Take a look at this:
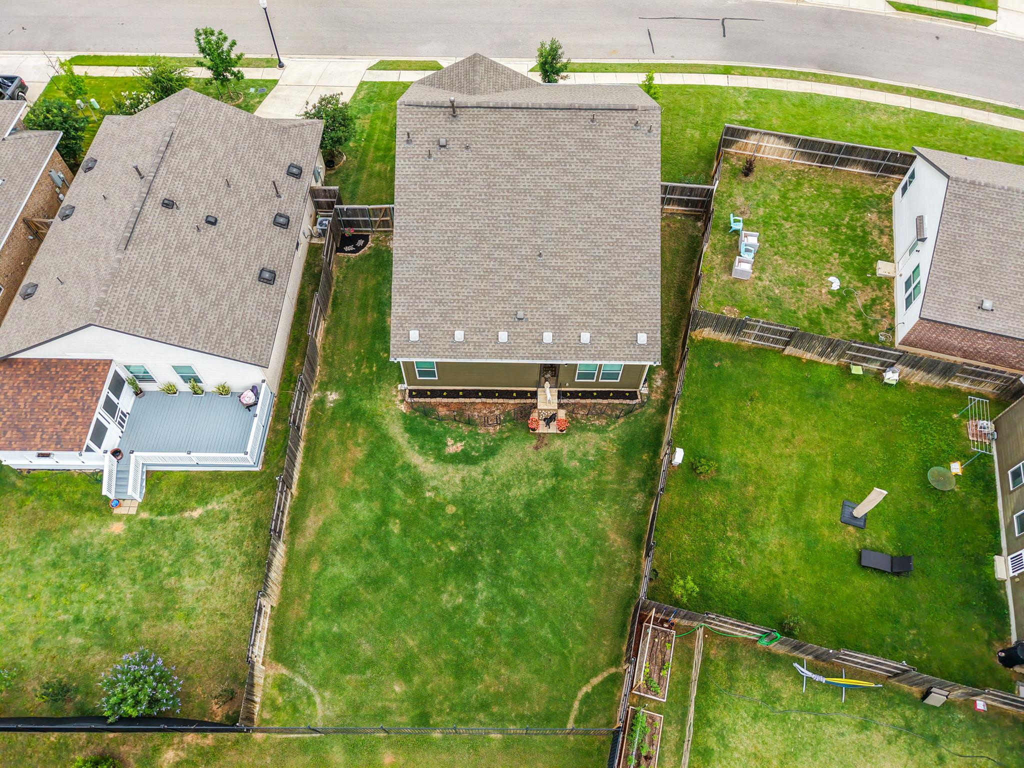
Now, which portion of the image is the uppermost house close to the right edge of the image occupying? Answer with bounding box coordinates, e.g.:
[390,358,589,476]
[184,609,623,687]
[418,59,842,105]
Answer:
[877,146,1024,377]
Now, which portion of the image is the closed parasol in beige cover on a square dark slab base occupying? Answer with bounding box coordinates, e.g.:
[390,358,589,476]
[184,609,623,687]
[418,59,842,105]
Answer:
[841,486,888,524]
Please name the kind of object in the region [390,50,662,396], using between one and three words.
house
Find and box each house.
[877,146,1024,377]
[390,50,662,396]
[0,90,323,393]
[992,407,1024,649]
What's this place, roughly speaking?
residential area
